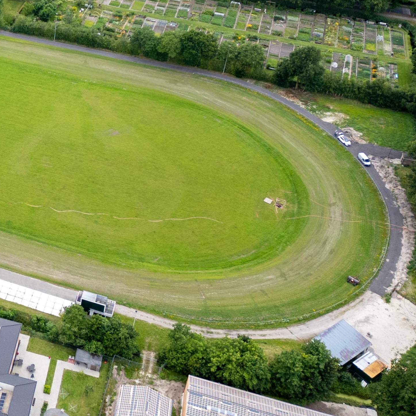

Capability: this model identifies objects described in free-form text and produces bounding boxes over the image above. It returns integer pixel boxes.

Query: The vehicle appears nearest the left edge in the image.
[335,131,352,148]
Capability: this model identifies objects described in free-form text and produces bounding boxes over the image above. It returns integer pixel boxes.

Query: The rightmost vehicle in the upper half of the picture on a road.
[356,148,371,167]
